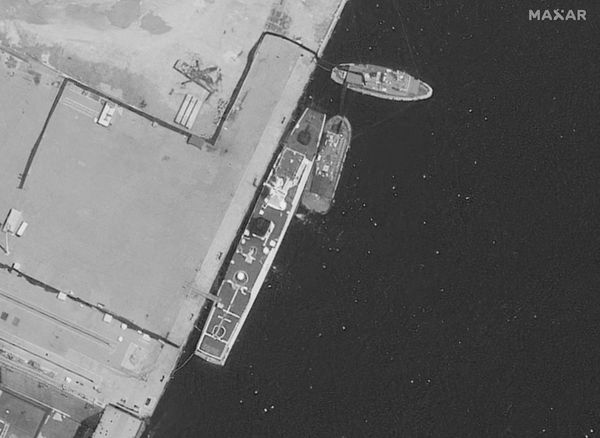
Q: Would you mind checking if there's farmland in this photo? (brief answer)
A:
No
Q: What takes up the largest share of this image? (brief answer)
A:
water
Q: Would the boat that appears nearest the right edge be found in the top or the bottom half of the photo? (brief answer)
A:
top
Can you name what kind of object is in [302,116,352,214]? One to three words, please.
boat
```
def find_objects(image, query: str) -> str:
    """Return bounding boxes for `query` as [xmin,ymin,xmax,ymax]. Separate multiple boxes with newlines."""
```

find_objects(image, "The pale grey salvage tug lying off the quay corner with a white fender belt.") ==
[331,64,434,103]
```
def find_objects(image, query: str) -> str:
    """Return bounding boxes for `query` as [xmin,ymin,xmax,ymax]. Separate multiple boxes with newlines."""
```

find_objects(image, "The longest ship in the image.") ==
[195,107,326,366]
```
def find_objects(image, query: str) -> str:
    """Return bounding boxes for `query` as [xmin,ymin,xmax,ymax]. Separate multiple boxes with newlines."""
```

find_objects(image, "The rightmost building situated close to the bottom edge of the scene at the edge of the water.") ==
[93,403,147,438]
